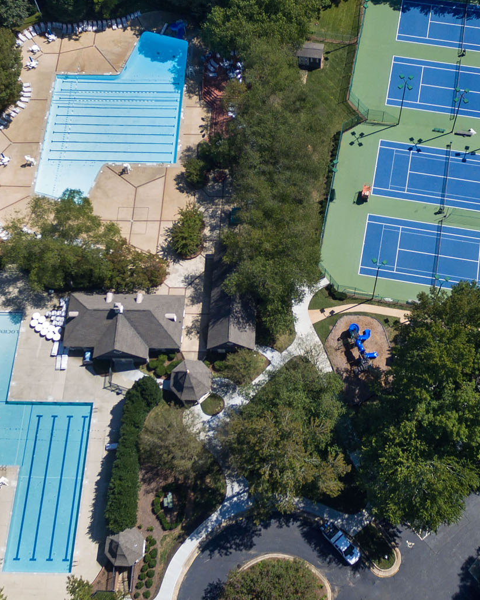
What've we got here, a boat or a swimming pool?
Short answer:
swimming pool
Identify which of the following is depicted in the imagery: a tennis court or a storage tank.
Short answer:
tennis court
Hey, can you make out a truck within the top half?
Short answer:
No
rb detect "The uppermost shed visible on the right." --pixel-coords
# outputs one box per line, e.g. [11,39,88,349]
[297,45,326,69]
